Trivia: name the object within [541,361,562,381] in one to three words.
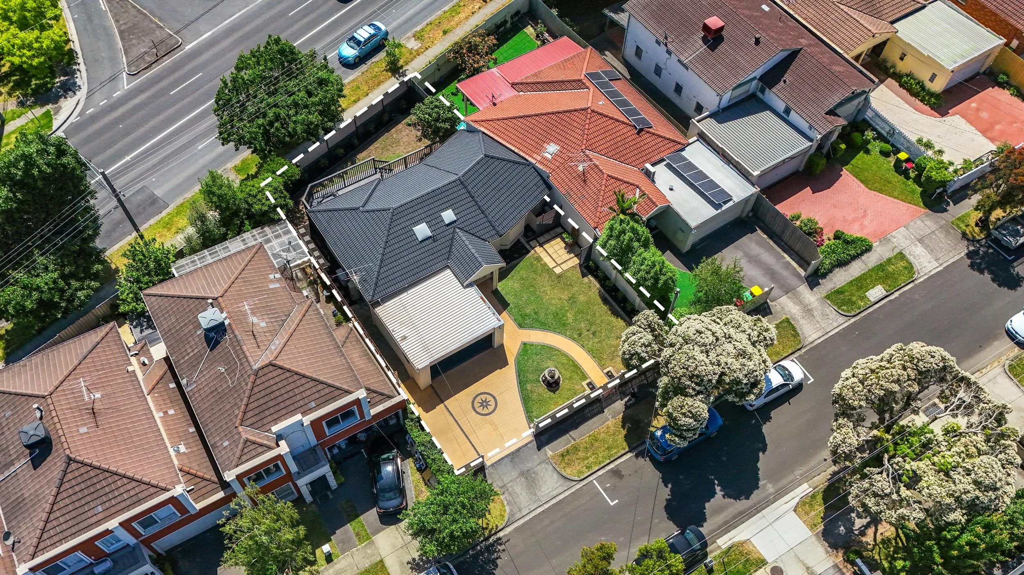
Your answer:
fountain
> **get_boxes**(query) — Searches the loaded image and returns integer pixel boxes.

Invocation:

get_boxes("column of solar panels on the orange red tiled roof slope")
[586,63,652,129]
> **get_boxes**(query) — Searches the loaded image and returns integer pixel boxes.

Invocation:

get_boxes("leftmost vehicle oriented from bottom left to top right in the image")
[332,19,388,64]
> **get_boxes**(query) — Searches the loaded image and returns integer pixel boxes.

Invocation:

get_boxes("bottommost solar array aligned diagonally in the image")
[664,143,735,207]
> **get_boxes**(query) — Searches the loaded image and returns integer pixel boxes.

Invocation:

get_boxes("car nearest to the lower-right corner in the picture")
[999,300,1024,337]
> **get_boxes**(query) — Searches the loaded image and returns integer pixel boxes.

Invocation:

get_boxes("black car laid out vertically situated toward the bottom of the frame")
[365,431,410,518]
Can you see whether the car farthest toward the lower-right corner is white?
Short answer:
Yes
